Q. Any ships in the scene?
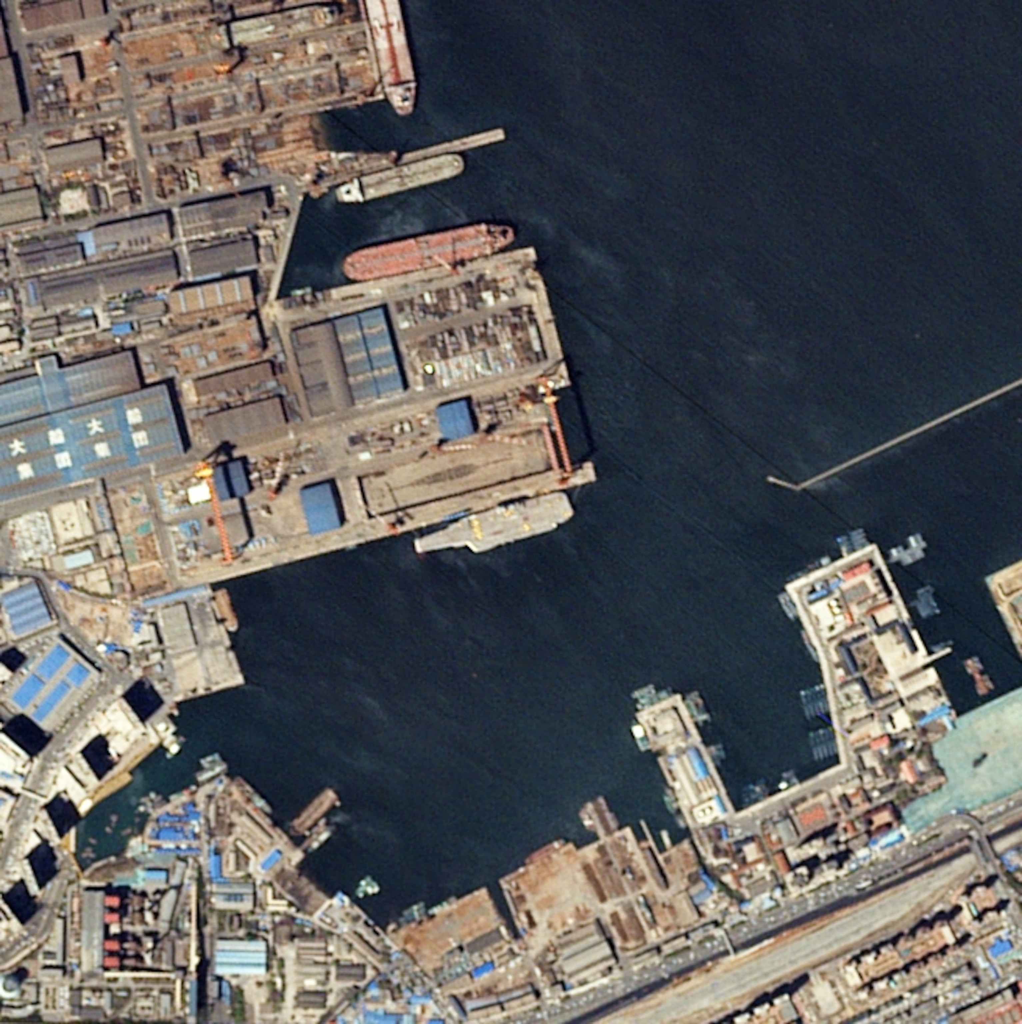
Yes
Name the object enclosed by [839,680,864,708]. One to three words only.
shed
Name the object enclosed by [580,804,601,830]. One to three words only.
ship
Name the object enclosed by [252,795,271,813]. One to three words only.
boat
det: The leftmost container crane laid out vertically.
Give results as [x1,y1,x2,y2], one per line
[196,460,237,565]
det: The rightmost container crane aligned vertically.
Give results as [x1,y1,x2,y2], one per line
[541,374,576,482]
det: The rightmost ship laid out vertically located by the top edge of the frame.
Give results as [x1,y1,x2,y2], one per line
[362,0,415,118]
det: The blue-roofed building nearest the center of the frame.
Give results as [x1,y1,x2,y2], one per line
[437,398,475,440]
